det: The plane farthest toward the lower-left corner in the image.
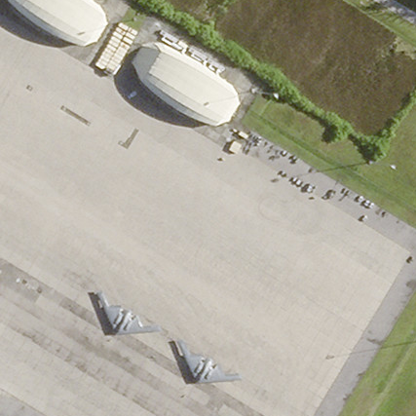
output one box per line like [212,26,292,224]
[99,294,161,334]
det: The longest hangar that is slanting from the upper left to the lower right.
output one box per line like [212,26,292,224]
[132,41,241,125]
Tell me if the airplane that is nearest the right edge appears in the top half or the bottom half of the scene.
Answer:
bottom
